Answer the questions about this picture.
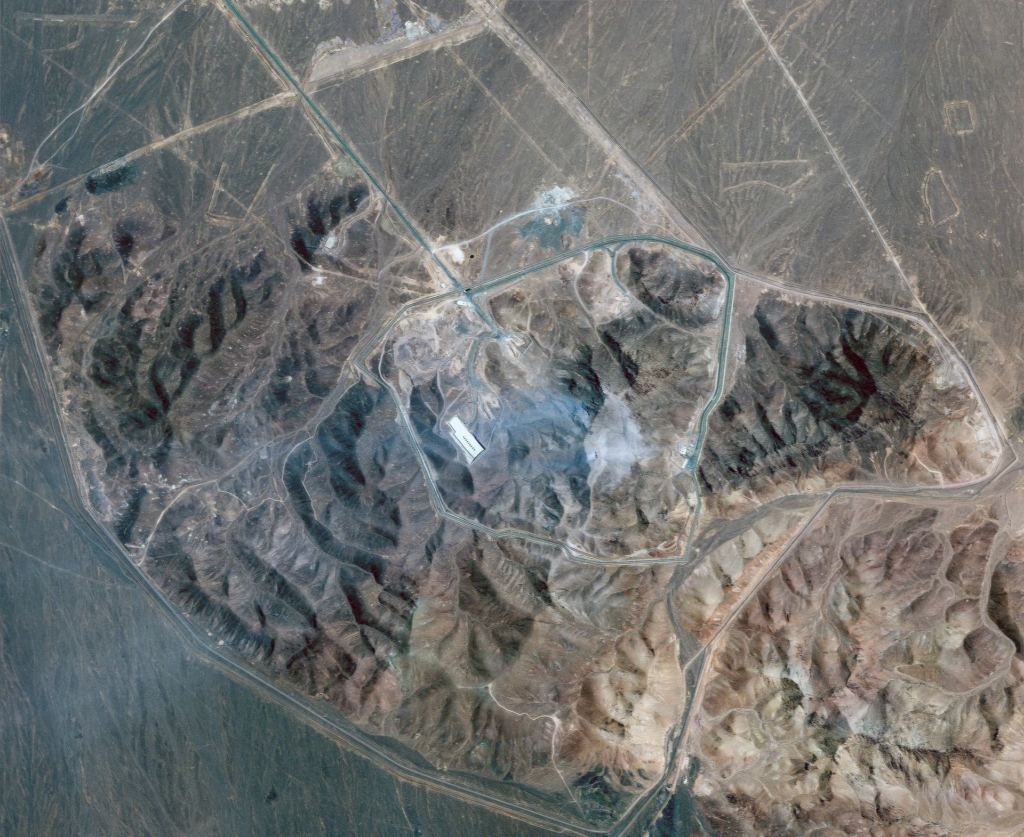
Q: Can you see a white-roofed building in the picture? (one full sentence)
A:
Yes, there's a white-roofed building here.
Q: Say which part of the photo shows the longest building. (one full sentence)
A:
The longest building is in the center part of the image.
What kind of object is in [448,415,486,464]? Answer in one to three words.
building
